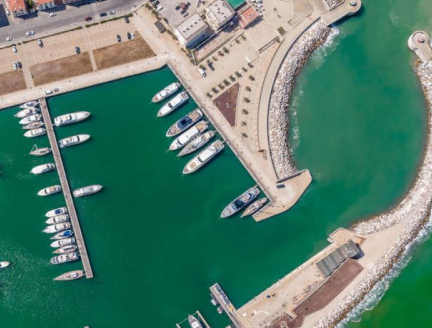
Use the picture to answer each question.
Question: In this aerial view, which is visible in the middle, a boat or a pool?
boat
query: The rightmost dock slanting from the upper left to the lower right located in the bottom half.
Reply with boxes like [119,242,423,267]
[209,283,238,328]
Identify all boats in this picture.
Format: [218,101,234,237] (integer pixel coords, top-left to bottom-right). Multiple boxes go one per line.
[67,185,103,198]
[52,245,77,253]
[13,107,37,116]
[30,162,60,173]
[188,315,202,328]
[183,140,227,173]
[19,113,42,123]
[156,91,190,116]
[177,130,216,156]
[42,222,77,233]
[29,147,50,155]
[45,214,75,223]
[51,112,91,126]
[152,80,181,102]
[50,237,81,247]
[45,207,68,217]
[170,120,210,150]
[53,270,84,280]
[50,251,85,262]
[221,187,262,217]
[37,184,66,195]
[19,101,38,109]
[166,108,204,136]
[240,198,267,218]
[50,230,73,240]
[53,134,91,148]
[23,126,52,137]
[21,119,45,129]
